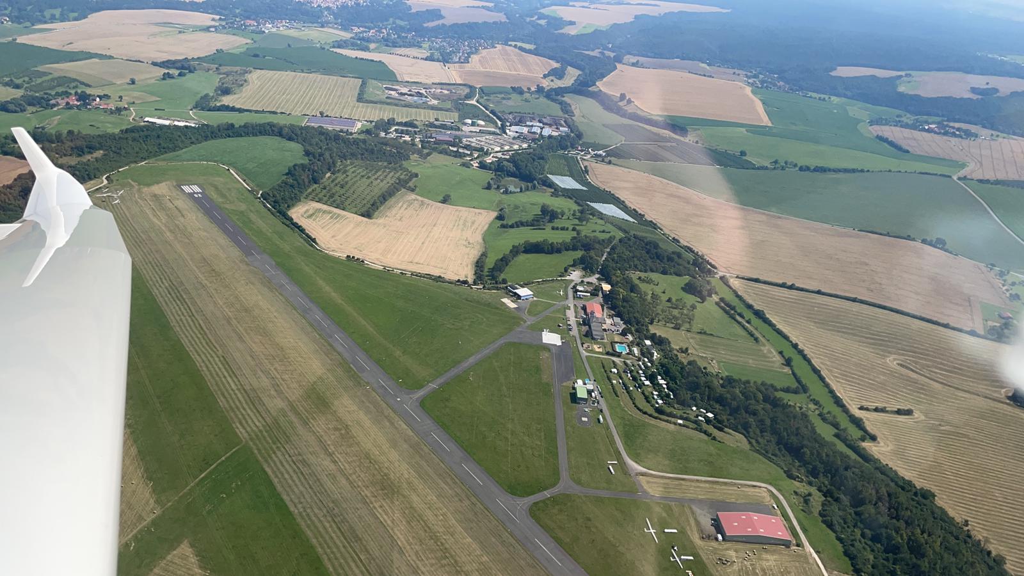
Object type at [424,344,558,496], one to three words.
airport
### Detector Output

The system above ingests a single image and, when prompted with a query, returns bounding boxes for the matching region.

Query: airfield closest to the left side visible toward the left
[88,194,295,576]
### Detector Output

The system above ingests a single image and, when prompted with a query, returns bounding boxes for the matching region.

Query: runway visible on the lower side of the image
[178,183,588,576]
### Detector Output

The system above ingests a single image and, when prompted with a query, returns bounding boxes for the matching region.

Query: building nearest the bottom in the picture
[716,512,792,544]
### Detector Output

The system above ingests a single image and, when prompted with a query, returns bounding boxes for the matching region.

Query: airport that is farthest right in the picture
[574,310,846,576]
